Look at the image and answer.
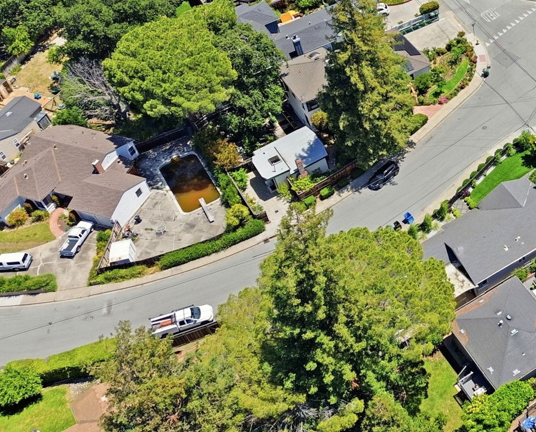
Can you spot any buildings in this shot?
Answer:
Yes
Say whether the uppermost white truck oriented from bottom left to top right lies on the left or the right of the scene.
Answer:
left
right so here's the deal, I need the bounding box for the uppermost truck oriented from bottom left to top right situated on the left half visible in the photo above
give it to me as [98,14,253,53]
[51,218,98,264]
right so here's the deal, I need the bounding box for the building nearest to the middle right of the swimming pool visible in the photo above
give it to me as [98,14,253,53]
[252,128,329,196]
